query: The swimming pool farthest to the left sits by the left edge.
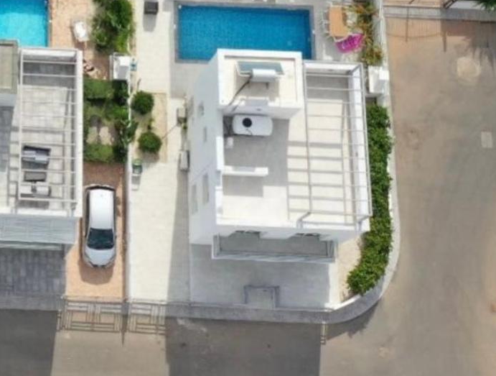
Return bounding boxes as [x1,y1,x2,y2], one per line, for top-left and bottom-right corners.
[0,0,53,49]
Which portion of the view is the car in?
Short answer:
left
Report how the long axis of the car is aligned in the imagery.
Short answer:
from top to bottom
